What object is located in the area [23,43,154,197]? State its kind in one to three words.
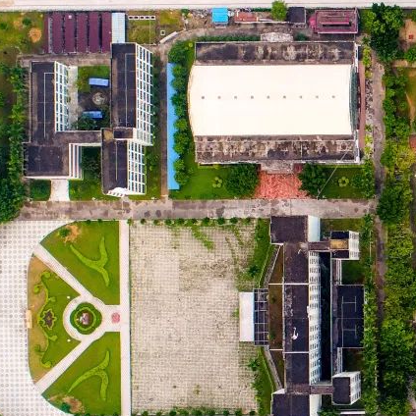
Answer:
building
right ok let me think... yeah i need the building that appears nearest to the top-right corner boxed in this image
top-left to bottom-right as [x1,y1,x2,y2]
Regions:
[310,9,359,35]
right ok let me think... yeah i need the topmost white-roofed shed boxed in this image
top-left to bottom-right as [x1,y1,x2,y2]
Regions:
[112,12,127,43]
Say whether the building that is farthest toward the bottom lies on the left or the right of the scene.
right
